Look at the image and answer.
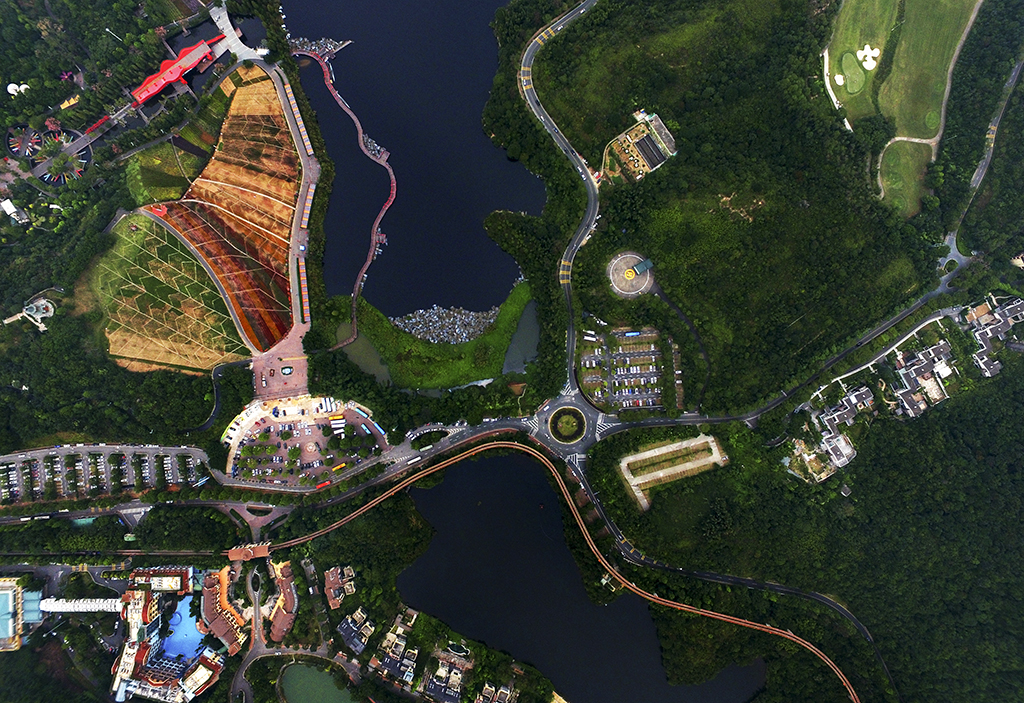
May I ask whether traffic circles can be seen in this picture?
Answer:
Yes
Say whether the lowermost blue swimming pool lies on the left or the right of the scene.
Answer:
left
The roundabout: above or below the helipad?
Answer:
below it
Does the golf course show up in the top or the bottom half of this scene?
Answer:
top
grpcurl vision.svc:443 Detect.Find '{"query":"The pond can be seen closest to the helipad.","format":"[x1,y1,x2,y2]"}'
[504,300,539,375]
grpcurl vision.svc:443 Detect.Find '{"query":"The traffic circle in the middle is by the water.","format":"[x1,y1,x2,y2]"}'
[505,374,635,470]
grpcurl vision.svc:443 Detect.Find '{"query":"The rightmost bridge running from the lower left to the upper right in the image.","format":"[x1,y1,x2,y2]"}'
[132,34,227,110]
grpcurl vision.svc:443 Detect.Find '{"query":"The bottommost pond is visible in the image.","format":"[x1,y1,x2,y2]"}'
[279,663,350,703]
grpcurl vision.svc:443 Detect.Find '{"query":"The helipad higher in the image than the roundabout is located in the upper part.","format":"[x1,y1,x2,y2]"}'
[606,251,653,298]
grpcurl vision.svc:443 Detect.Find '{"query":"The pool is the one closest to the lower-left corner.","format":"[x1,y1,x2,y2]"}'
[161,594,208,661]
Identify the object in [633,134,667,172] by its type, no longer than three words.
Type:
house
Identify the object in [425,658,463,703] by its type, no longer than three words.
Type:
house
